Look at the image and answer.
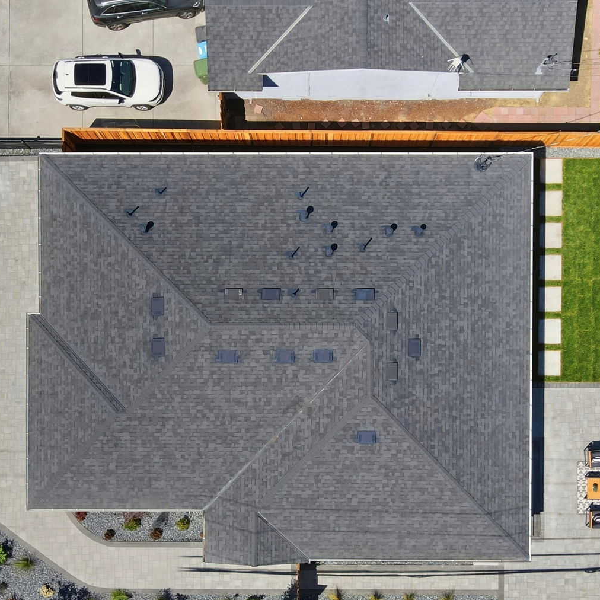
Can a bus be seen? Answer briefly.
No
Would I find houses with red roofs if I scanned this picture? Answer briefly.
No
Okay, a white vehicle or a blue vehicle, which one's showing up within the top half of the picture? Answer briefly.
white vehicle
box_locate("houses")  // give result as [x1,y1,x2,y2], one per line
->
[25,151,535,567]
[206,0,575,103]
